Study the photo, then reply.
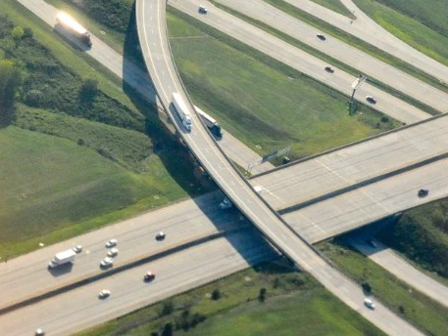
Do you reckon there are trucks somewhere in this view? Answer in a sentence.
Yes, looking at the shot, I can spot a truck.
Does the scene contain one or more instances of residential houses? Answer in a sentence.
No, there's no residential house here.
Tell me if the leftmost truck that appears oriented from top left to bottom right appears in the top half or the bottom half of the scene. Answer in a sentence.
The leftmost truck that appears oriented from top left to bottom right sits in the top half of the picture.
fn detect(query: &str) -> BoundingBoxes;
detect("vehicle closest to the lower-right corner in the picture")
[361,295,377,308]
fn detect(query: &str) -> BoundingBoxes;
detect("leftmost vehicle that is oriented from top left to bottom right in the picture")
[54,12,92,47]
